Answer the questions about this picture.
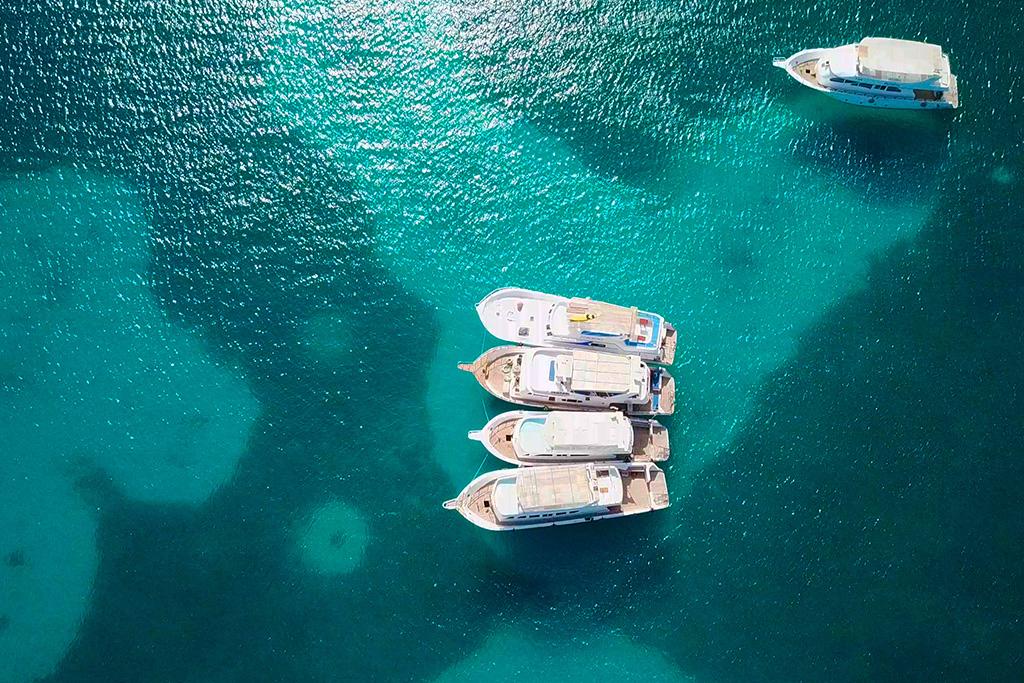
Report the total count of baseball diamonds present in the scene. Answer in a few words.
none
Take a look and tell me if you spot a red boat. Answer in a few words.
No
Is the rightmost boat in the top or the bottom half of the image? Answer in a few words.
top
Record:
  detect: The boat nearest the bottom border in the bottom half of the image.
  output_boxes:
[441,458,670,529]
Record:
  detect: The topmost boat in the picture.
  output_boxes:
[772,37,959,110]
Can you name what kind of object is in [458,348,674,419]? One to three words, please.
boat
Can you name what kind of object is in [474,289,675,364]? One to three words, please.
boat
